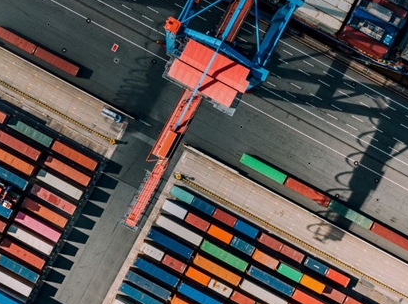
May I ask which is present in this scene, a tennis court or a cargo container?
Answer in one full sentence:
The one in the frame is a cargo container.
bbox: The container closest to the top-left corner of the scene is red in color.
[0,23,39,52]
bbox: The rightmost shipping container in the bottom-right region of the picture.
[368,220,408,251]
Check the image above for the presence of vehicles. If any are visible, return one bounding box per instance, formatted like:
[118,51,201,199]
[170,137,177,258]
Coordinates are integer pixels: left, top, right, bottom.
[0,176,27,211]
[102,106,124,123]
